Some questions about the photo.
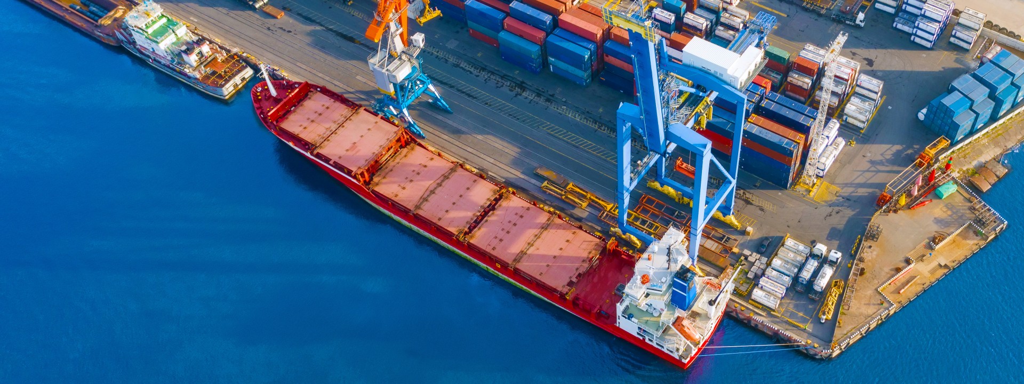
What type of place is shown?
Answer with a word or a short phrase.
port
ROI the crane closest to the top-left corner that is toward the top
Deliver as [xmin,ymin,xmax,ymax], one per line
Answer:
[346,0,456,140]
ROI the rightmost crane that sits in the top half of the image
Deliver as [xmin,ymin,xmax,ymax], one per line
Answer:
[589,0,790,274]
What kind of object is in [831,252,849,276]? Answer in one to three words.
vehicle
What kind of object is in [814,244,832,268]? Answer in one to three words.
vehicle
